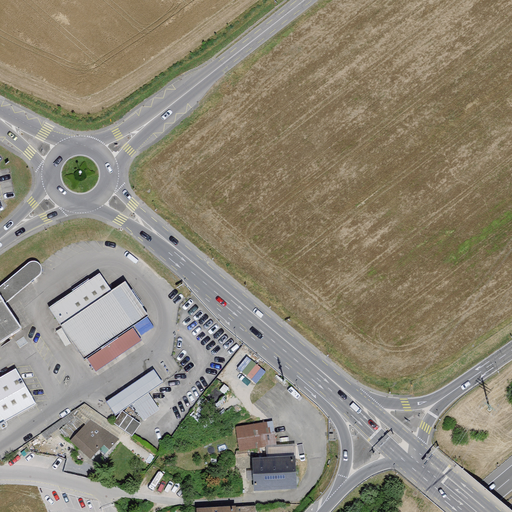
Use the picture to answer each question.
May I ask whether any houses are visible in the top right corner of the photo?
No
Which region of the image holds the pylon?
bottom right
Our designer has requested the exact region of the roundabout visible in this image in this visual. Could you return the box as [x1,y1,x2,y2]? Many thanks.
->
[42,136,119,212]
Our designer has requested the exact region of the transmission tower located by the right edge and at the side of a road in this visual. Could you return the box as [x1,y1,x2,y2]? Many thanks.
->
[406,374,512,510]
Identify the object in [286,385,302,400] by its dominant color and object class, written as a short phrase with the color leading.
white vehicle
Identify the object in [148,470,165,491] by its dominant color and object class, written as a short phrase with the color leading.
white camper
